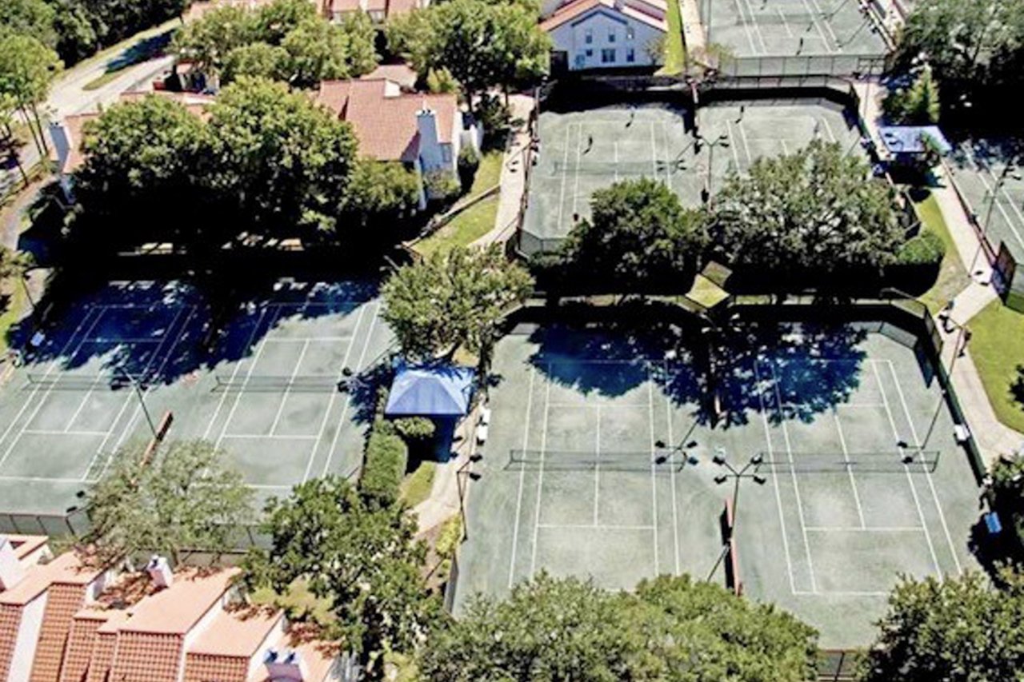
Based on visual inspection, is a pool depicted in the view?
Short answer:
No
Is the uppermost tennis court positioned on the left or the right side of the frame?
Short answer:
right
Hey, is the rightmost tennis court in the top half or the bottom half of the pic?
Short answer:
top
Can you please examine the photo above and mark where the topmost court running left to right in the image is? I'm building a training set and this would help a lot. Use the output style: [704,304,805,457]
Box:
[705,0,888,76]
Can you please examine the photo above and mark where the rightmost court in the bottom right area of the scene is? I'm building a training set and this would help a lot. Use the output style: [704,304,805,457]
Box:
[713,315,1024,682]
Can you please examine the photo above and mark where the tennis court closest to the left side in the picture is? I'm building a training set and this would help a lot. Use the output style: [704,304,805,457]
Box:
[0,276,228,552]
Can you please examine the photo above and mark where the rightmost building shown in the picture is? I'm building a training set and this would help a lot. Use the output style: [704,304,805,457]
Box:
[877,126,950,176]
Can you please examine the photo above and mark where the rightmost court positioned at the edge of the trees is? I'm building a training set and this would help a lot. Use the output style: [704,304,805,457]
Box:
[942,129,1024,297]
